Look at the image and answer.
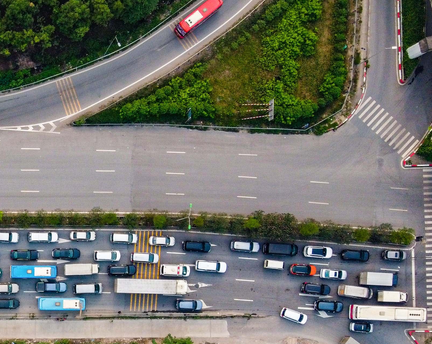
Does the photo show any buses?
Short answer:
Yes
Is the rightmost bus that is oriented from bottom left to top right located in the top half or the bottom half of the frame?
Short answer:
top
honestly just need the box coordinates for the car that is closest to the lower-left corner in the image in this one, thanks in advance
[0,298,19,310]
